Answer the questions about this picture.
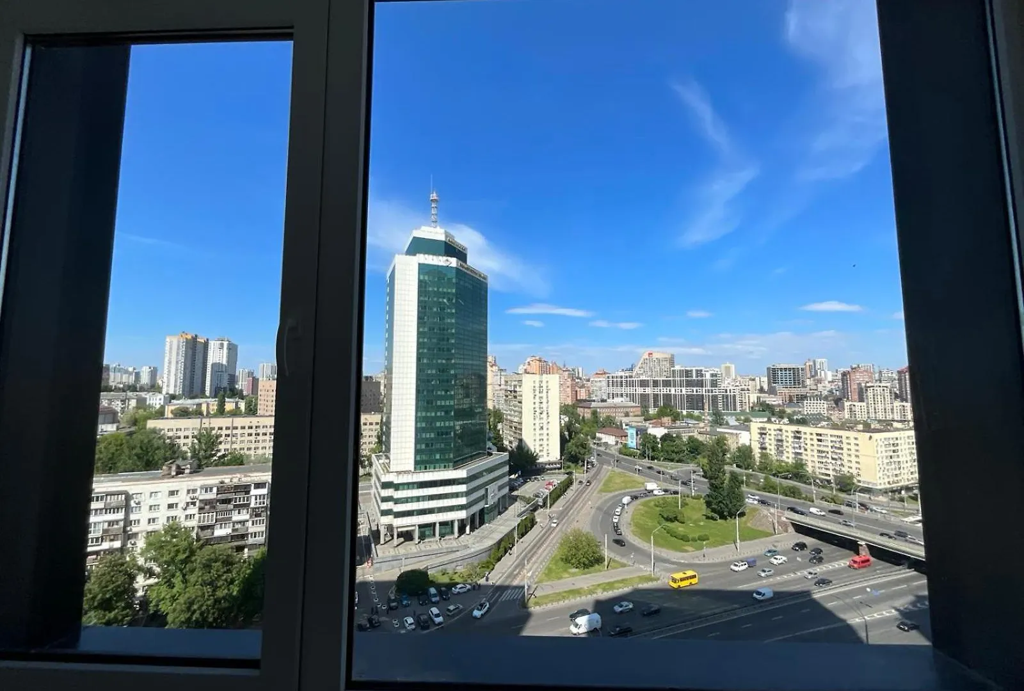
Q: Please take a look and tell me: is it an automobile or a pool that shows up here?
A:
automobile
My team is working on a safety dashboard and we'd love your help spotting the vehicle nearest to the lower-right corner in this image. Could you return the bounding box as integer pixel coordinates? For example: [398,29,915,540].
[893,618,921,632]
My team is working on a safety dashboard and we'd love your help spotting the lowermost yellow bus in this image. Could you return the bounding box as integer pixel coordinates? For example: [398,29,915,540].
[669,566,698,588]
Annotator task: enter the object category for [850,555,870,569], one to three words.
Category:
vehicle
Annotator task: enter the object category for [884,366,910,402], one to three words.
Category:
building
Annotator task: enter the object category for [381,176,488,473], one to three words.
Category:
building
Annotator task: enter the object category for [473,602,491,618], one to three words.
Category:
car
